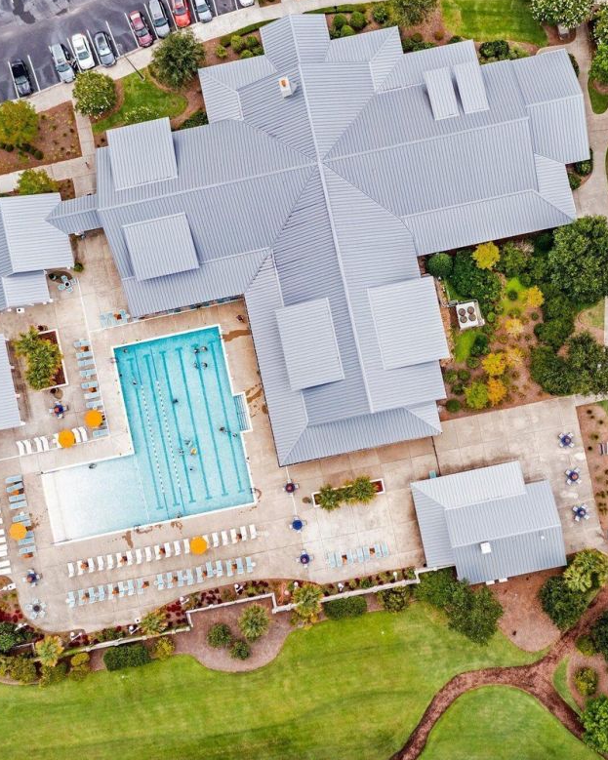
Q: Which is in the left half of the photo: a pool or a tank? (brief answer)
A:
pool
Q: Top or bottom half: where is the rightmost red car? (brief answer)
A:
top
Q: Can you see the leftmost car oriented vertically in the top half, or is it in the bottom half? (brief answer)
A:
top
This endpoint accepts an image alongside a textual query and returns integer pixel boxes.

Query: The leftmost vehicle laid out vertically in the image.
[13,58,34,98]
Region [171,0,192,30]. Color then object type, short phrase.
red car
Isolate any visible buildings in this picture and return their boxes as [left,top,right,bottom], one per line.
[0,334,23,428]
[410,461,566,583]
[96,14,590,467]
[0,192,102,310]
